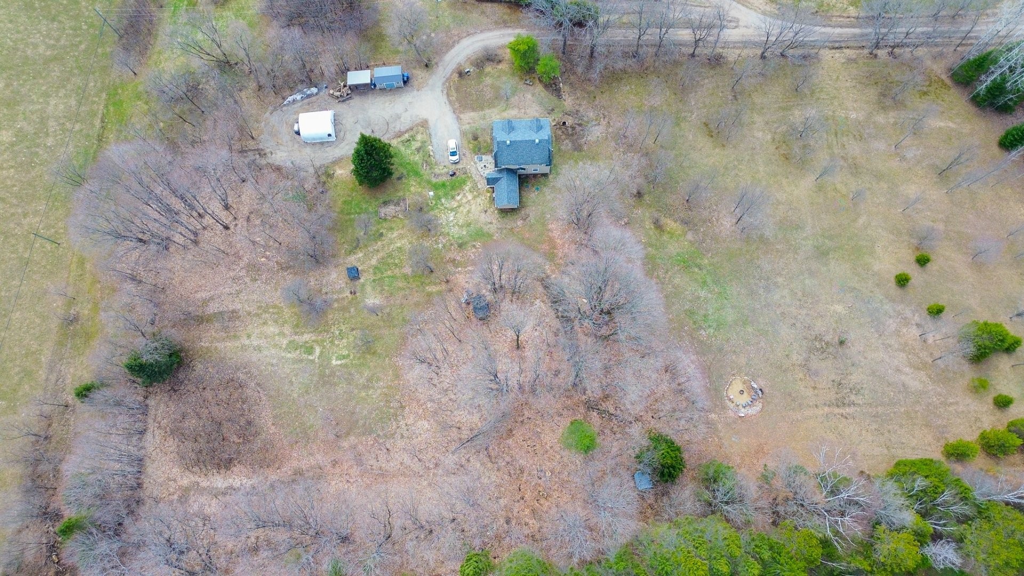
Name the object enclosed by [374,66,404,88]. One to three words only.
shed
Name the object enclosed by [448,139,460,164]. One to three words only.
vehicle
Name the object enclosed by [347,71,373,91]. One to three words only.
shed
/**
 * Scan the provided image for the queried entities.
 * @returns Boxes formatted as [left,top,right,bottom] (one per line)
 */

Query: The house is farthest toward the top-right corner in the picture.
[486,117,553,212]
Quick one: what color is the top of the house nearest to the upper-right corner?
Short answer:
blue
